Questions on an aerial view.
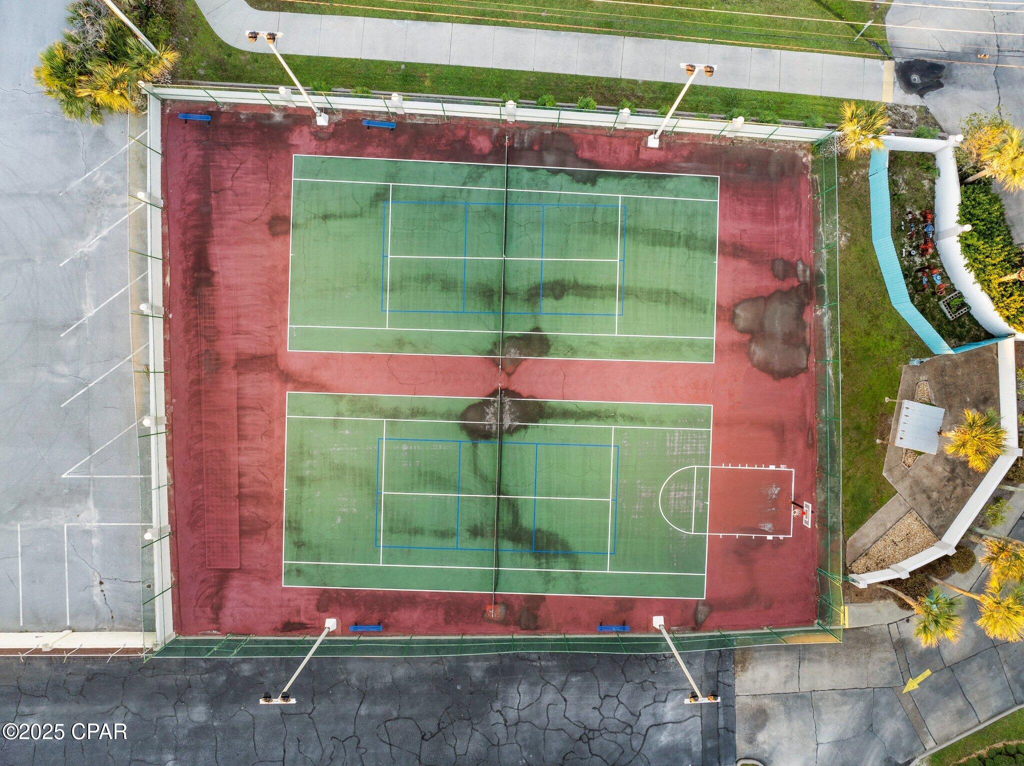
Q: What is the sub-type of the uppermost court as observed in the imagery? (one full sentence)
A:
Specifically, the uppermost court is a tennis court.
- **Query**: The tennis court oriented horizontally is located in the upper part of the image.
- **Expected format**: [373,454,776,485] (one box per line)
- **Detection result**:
[287,154,720,363]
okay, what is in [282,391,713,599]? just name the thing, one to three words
tennis court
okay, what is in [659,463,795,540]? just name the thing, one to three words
basketball court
